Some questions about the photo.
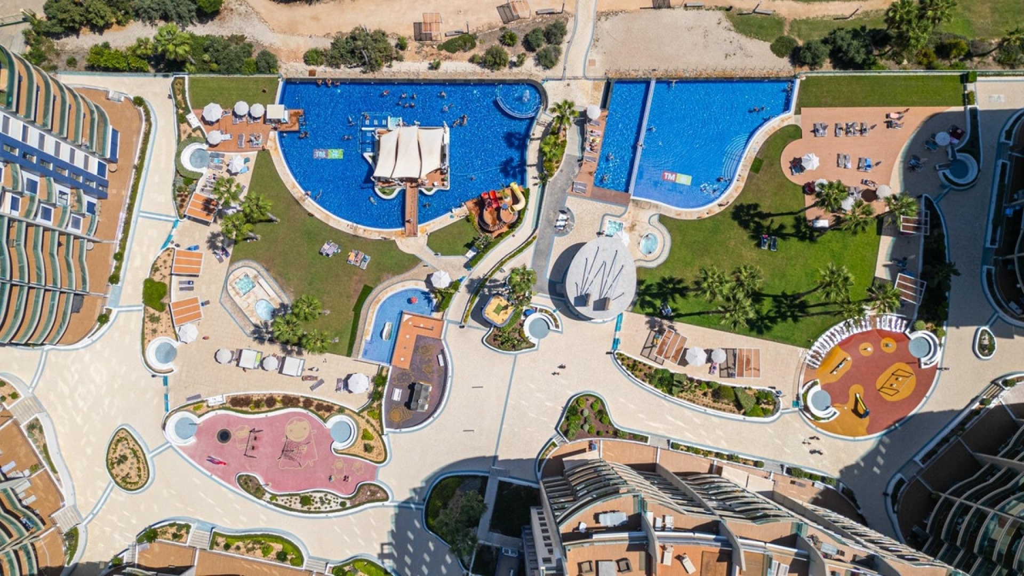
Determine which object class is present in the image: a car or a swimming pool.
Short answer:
swimming pool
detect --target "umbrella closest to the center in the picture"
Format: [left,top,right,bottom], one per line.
[431,269,451,289]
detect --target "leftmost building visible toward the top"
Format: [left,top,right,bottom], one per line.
[0,48,119,345]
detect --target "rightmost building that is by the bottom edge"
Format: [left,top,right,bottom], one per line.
[917,419,1024,576]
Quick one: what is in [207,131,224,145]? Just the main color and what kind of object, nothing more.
white umbrella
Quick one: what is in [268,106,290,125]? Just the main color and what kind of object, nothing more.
white tent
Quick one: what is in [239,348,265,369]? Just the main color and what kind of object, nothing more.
white tent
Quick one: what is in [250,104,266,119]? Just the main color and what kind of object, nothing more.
white umbrella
